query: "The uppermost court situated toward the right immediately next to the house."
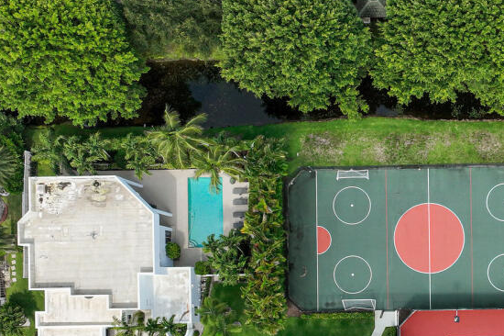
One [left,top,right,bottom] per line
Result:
[288,165,504,313]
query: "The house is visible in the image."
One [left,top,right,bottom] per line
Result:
[18,175,202,336]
